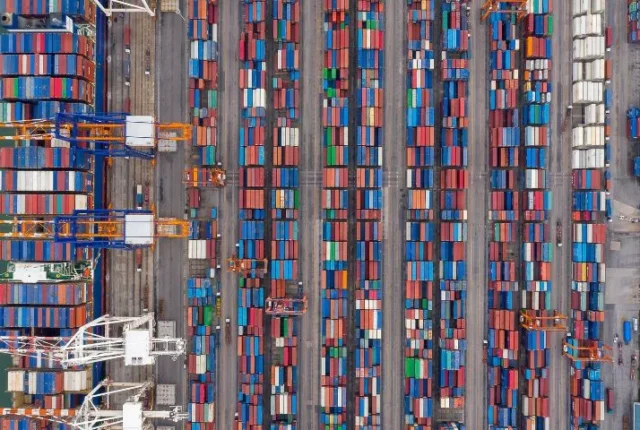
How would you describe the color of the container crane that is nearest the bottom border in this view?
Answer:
white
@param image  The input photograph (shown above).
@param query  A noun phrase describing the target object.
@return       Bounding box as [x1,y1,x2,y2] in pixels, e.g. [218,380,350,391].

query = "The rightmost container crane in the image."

[558,334,613,362]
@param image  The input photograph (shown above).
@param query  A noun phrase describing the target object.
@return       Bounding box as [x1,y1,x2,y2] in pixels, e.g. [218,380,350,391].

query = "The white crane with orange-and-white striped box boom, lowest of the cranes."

[0,371,188,430]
